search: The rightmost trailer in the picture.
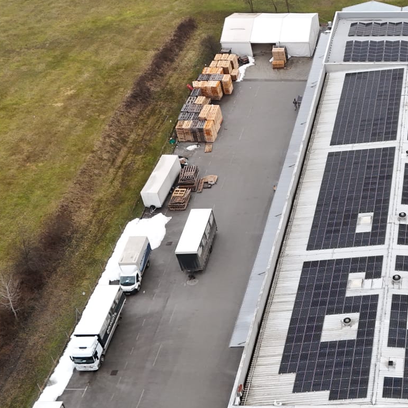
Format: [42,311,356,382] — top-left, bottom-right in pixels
[173,208,217,286]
